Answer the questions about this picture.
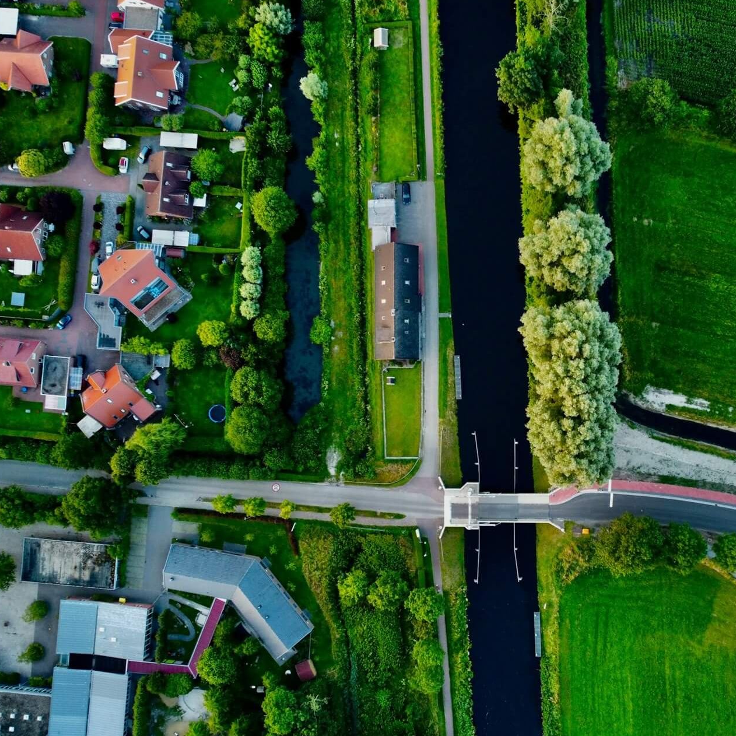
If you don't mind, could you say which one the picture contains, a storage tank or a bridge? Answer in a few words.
bridge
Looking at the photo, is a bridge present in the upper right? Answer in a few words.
No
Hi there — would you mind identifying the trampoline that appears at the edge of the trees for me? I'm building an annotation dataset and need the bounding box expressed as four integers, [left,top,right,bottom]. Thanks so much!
[207,404,226,423]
